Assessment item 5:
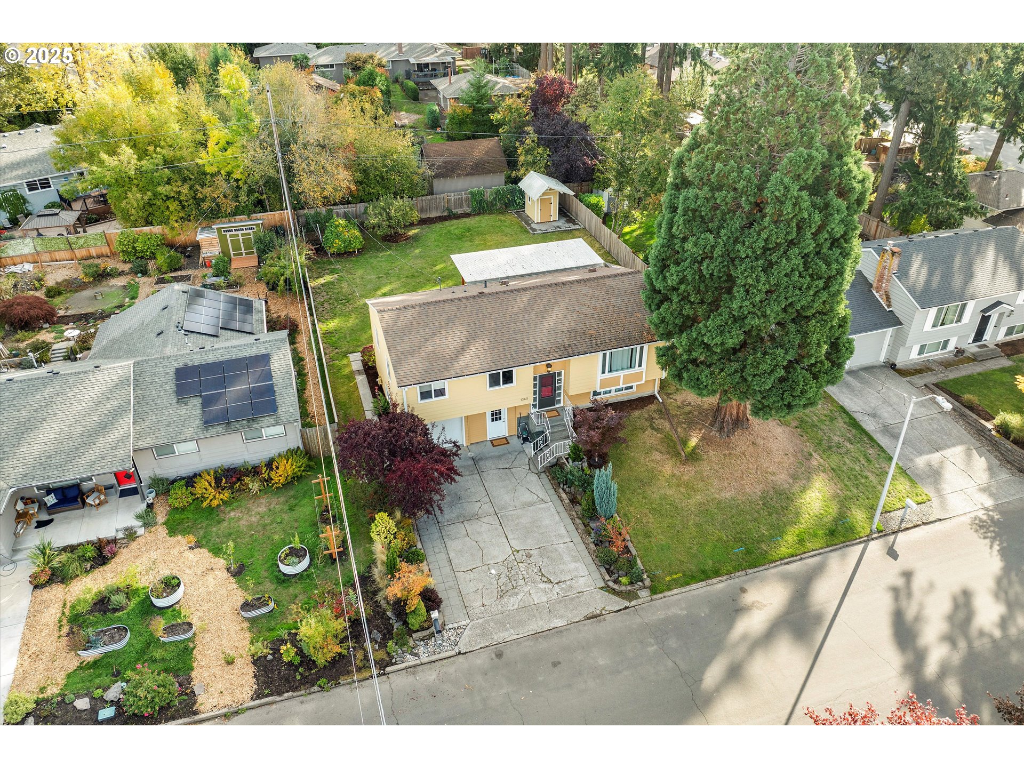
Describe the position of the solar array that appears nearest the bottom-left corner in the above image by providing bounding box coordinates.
[176,352,276,424]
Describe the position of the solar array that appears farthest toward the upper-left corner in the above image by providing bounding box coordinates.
[184,290,254,335]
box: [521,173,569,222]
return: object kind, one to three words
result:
shed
